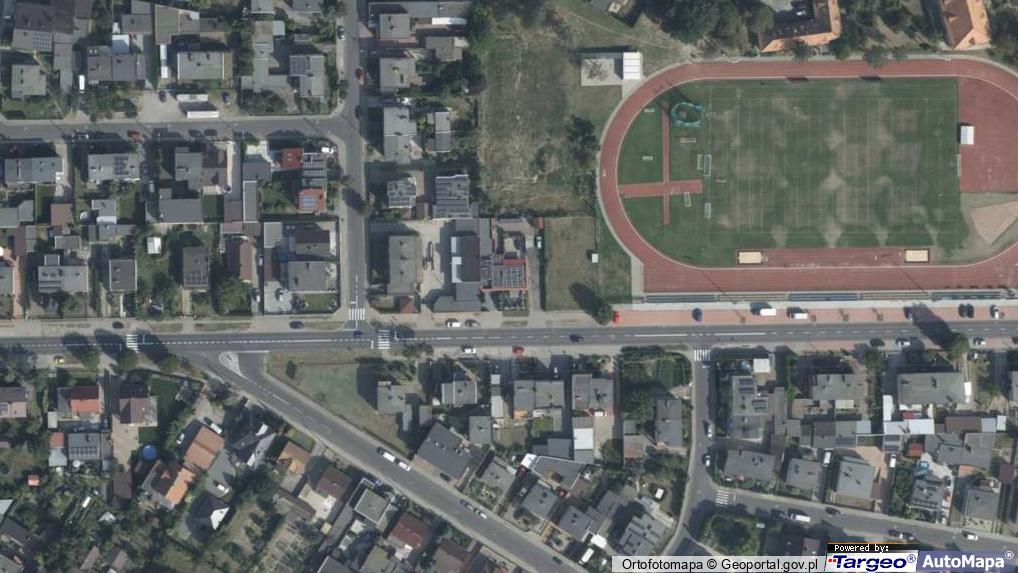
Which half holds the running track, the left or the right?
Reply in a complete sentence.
The running track appears in the right half of the scene.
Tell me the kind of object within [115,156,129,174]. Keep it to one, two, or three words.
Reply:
solar array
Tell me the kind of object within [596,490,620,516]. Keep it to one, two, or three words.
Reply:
shed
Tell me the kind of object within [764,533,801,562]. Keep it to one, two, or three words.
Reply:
house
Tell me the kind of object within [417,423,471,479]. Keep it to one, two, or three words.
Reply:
building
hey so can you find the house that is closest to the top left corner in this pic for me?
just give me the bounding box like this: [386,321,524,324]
[11,3,54,51]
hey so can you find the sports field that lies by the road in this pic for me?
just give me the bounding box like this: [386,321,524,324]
[618,78,1018,267]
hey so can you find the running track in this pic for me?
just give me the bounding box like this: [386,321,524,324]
[597,57,1018,293]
